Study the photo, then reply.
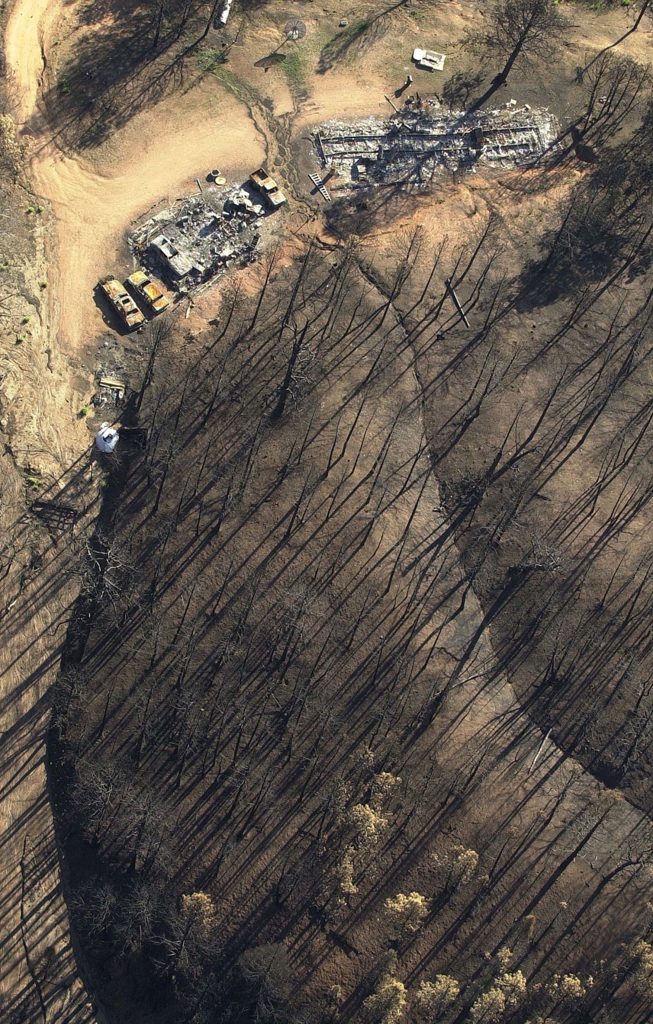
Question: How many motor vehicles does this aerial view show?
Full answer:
I count 4 motor vehicles.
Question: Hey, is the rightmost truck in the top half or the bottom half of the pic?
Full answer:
The rightmost truck is in the top half of the image.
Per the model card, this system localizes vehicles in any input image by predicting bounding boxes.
[100,279,145,329]
[127,271,168,315]
[149,234,195,280]
[248,166,287,207]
